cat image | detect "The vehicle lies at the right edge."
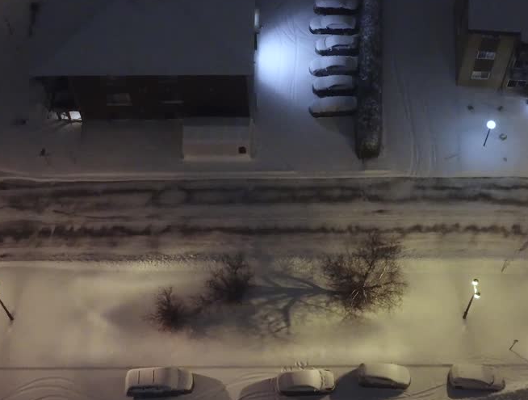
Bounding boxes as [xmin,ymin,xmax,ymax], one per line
[445,365,507,394]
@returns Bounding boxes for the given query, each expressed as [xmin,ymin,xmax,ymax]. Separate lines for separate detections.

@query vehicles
[277,368,336,397]
[125,366,193,399]
[314,35,359,58]
[445,365,507,394]
[309,16,359,39]
[311,76,359,99]
[308,96,359,121]
[309,56,359,79]
[313,0,358,19]
[356,363,413,392]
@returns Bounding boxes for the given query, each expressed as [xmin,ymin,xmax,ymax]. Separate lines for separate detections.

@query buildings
[456,0,528,89]
[30,0,259,159]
